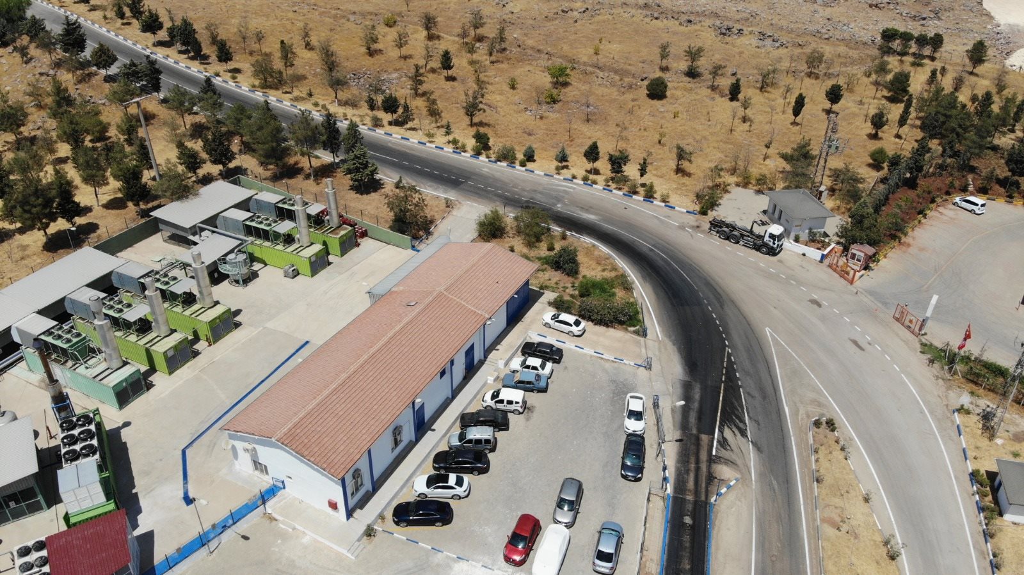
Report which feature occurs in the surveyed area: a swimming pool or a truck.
truck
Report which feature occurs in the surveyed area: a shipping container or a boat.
shipping container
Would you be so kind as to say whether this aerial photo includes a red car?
Yes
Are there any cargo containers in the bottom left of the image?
Yes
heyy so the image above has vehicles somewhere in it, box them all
[593,516,626,574]
[950,194,991,214]
[411,471,472,500]
[511,354,558,377]
[458,407,510,431]
[713,219,788,256]
[479,384,530,415]
[432,447,491,476]
[624,393,648,436]
[390,497,455,528]
[551,472,585,527]
[500,369,550,393]
[445,422,498,453]
[541,313,588,337]
[503,509,538,565]
[621,433,648,481]
[519,340,566,362]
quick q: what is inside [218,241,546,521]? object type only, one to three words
building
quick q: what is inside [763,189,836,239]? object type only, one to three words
building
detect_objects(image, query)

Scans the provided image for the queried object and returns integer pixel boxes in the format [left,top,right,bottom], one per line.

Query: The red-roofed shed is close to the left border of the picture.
[43,507,143,575]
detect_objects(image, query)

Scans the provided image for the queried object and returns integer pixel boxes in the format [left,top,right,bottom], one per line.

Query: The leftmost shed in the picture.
[0,415,48,519]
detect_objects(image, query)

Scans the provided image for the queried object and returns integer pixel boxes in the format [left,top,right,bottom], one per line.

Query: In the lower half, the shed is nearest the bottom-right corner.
[987,458,1024,532]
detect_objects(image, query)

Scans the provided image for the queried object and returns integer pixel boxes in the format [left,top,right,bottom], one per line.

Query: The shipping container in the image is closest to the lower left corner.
[57,404,123,525]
